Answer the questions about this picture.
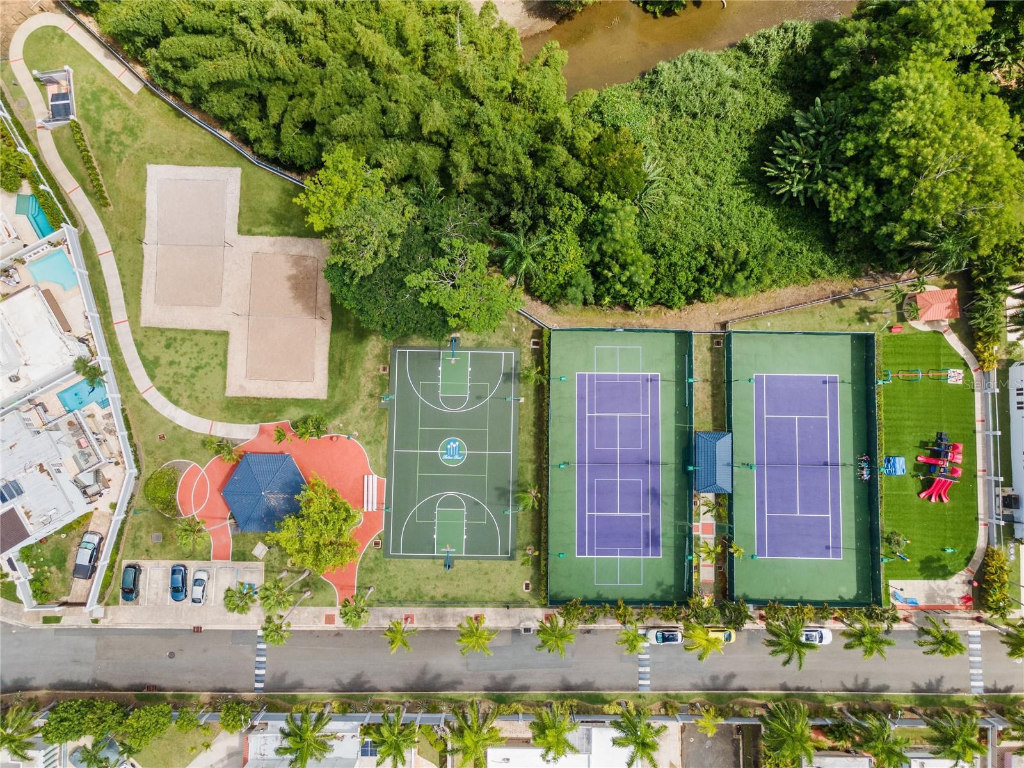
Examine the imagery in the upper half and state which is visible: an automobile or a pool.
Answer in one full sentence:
Looking in the upper half, you will find a pool.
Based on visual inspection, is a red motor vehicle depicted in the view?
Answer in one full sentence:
No, no red motor vehicle is visible in the scene.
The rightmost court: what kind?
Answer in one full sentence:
Specifically, the rightmost court is a tennis court.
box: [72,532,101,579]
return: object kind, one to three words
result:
truck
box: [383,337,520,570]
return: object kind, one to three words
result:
basketball court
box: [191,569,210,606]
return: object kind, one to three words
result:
car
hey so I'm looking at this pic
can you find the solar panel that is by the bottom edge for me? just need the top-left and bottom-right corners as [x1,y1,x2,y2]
[361,737,377,756]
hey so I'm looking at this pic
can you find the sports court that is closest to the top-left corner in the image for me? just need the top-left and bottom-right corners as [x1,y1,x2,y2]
[141,164,241,329]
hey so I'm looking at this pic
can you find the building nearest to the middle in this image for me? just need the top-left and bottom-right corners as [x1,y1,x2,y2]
[692,432,732,494]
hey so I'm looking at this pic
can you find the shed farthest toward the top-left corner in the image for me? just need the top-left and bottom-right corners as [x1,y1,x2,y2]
[36,63,77,127]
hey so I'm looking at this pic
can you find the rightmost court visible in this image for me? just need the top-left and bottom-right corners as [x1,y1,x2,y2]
[725,334,872,602]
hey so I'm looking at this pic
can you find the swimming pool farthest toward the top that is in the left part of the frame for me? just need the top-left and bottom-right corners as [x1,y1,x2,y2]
[14,193,54,239]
